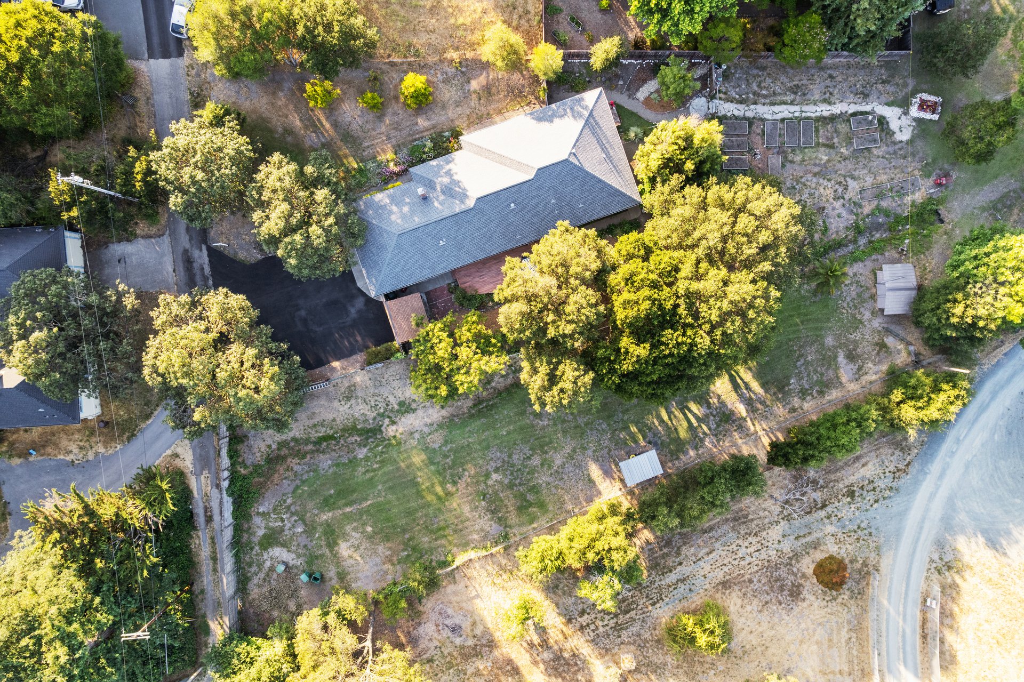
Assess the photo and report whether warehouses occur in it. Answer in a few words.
No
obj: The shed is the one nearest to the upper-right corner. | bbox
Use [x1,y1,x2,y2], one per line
[877,263,925,315]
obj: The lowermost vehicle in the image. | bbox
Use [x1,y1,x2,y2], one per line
[935,174,958,187]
